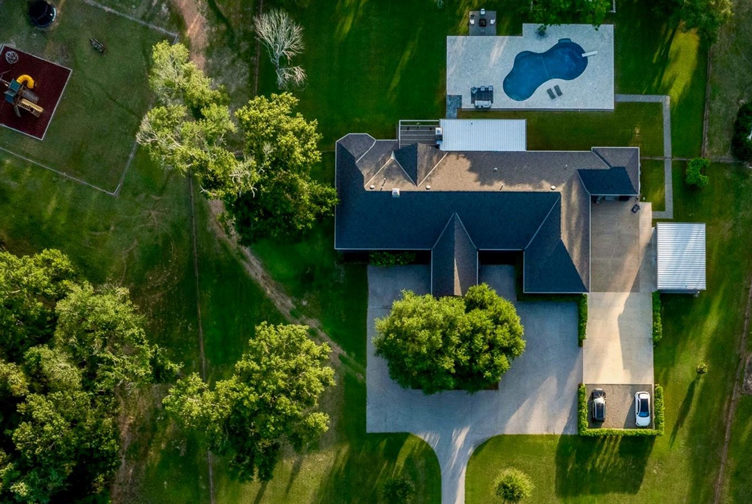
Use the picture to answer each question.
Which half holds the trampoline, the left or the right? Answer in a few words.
left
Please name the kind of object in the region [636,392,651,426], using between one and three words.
car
